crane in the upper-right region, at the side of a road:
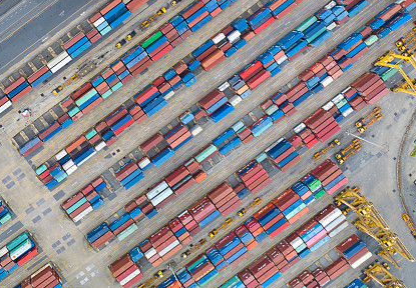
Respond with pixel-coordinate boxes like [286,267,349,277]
[373,51,416,93]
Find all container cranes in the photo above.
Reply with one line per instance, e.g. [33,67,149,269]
[353,219,416,275]
[360,260,407,288]
[334,183,395,239]
[373,51,416,93]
